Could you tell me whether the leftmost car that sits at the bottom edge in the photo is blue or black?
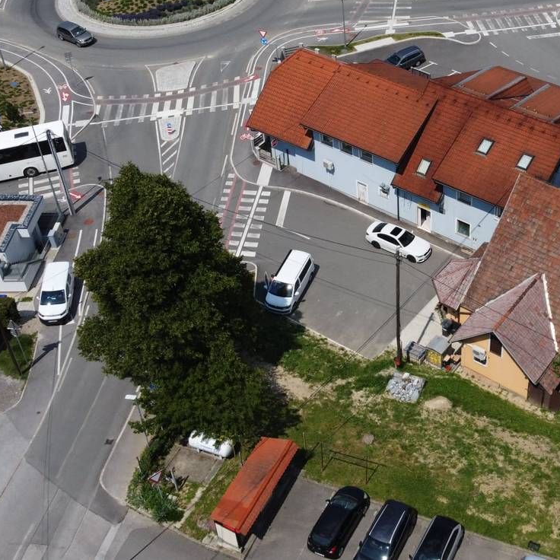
black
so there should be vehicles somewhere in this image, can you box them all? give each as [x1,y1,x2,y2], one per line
[353,496,421,560]
[262,251,315,315]
[57,21,96,51]
[386,45,427,71]
[415,510,477,560]
[365,224,430,259]
[0,119,70,175]
[524,545,560,560]
[304,487,373,560]
[40,262,77,323]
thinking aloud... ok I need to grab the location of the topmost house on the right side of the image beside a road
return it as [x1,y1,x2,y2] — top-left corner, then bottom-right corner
[246,49,560,251]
